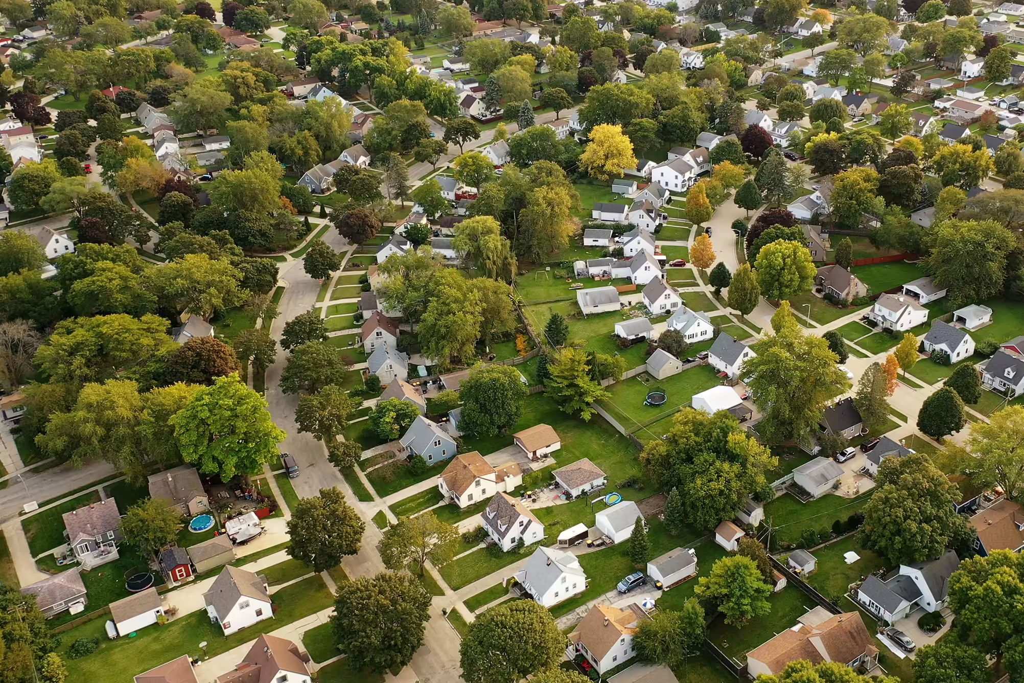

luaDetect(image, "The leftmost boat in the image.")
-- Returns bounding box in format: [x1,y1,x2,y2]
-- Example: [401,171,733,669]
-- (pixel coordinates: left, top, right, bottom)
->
[102,613,117,641]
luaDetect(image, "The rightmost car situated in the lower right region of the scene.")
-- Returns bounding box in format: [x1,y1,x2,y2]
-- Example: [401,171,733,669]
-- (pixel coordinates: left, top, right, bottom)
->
[884,628,918,653]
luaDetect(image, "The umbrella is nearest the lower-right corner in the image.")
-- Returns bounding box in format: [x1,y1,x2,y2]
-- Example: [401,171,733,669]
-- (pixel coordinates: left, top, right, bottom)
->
[640,594,658,609]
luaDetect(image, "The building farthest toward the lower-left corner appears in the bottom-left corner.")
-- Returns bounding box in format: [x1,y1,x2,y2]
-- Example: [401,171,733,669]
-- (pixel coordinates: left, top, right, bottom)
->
[33,557,88,614]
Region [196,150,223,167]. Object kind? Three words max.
building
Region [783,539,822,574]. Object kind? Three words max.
shed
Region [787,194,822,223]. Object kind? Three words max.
house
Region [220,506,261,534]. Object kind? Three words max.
camper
